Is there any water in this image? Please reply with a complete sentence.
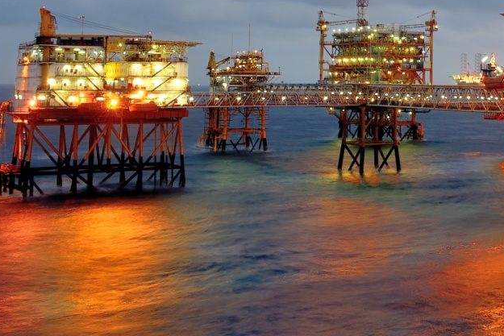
Yes, water shows up in the scene.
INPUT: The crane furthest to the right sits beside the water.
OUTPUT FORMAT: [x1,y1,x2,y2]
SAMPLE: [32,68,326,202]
[403,6,436,101]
